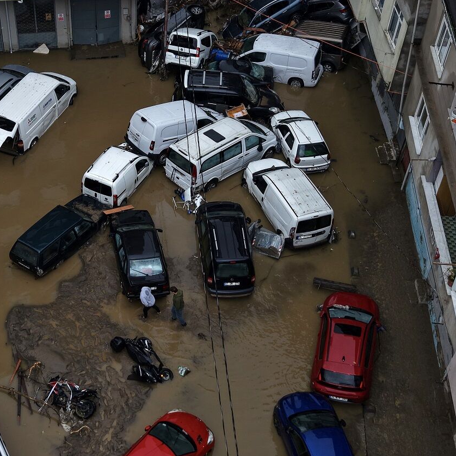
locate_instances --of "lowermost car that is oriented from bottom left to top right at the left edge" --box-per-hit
[15,197,111,278]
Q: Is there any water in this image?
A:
Yes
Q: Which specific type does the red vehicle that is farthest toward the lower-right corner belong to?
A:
automobile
